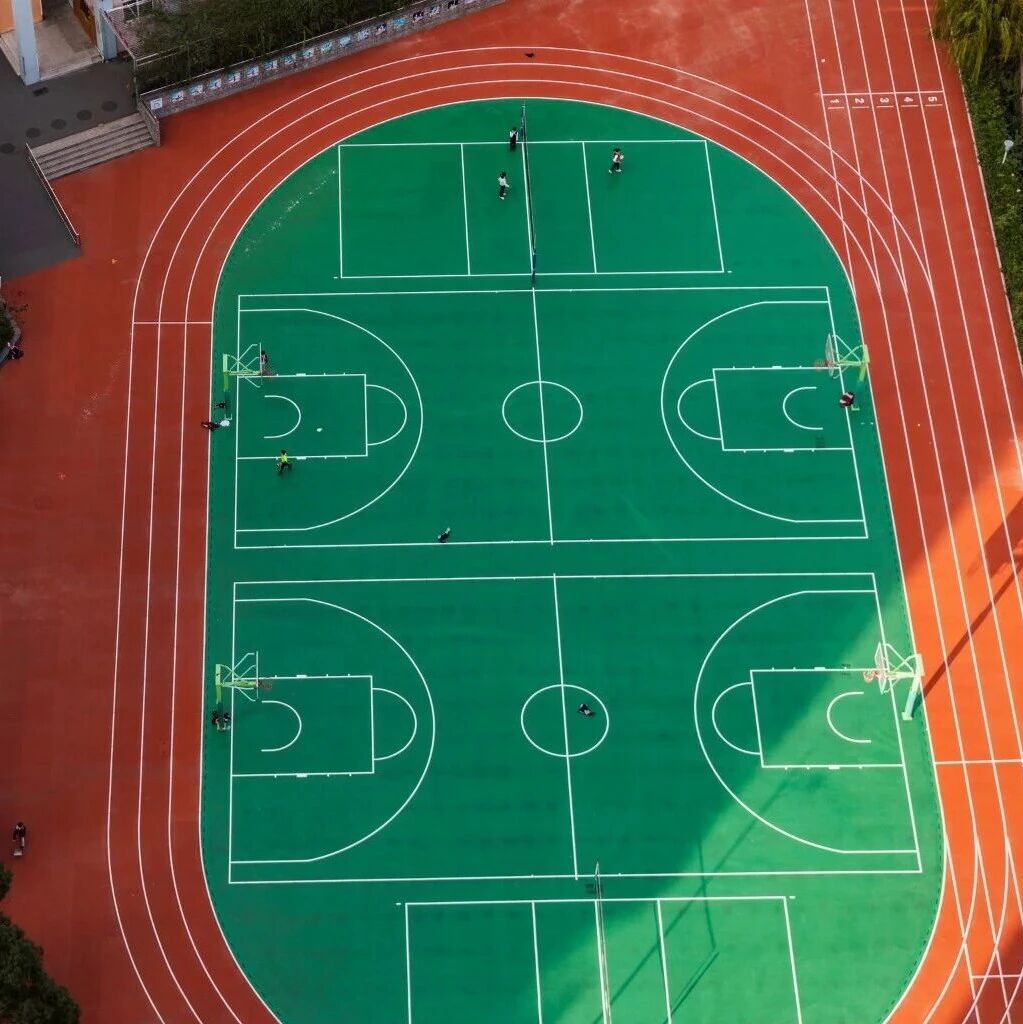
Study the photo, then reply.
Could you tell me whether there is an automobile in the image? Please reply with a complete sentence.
No, no automobile can be seen from above.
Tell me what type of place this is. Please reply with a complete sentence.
It's a sports ground.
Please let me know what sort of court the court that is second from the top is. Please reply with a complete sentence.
Specifically, the court that is second from the top is a basketball court.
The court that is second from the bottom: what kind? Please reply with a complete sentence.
The court that is second from the bottom appears to be a basketball court.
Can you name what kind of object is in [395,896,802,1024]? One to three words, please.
sports court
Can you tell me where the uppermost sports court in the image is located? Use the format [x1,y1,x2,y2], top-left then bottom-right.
[332,139,732,278]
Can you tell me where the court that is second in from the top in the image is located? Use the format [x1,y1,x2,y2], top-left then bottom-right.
[234,286,868,548]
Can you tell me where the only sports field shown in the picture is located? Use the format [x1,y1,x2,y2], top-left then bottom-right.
[202,97,943,1024]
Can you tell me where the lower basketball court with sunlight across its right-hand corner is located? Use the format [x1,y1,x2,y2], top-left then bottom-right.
[229,572,923,883]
